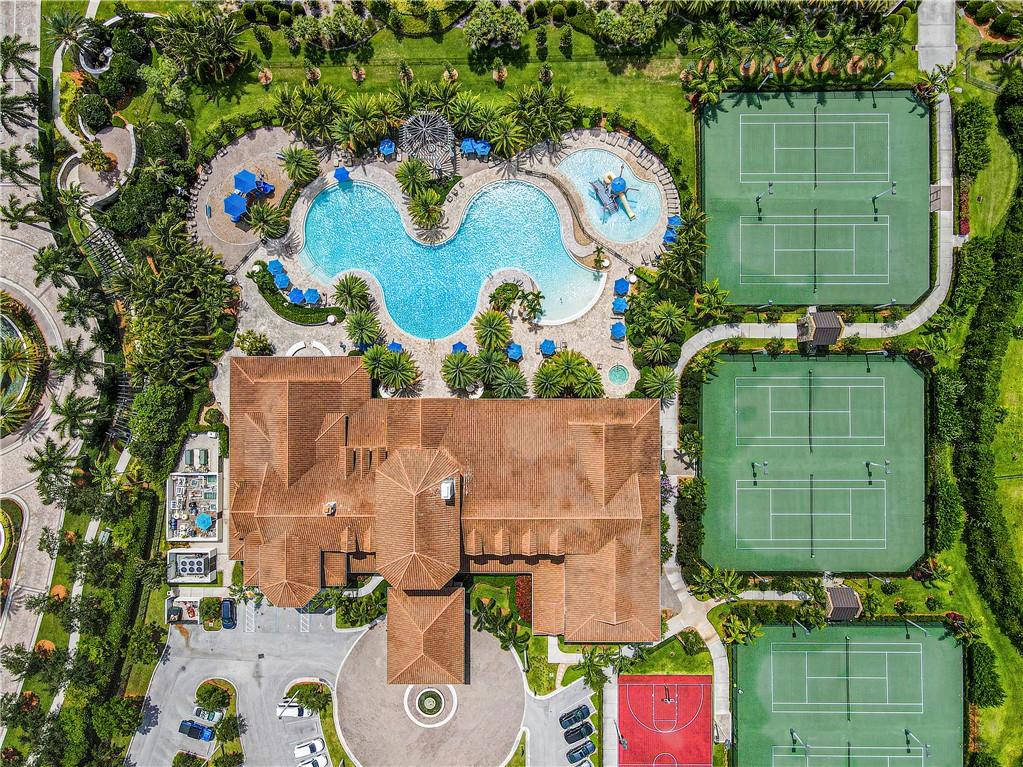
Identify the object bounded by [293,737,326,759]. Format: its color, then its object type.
white car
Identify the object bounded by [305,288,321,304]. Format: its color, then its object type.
blue umbrella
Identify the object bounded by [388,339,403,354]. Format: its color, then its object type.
blue umbrella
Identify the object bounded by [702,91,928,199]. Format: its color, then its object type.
green tennis court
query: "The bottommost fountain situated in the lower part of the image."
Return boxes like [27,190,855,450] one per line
[417,689,444,716]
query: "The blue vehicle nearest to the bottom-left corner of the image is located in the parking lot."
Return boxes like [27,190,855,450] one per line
[177,719,215,740]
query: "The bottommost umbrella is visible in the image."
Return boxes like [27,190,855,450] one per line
[197,511,213,527]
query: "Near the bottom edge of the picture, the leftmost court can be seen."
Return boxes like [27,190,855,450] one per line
[618,674,710,767]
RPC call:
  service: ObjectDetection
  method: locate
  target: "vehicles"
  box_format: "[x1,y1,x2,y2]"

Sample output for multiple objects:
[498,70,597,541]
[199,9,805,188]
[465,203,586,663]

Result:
[557,704,590,728]
[297,752,330,767]
[293,737,326,759]
[220,596,237,628]
[194,705,224,723]
[277,700,311,717]
[564,740,596,763]
[562,721,594,744]
[177,719,215,740]
[571,758,598,767]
